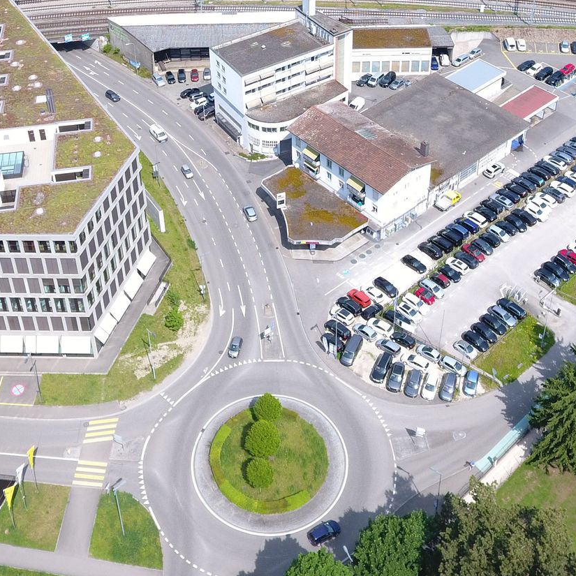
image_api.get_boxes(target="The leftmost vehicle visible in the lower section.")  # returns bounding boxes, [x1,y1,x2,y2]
[228,336,243,359]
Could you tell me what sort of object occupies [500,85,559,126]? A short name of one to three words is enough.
shed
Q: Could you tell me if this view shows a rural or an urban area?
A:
urban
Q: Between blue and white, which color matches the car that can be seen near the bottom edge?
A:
blue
